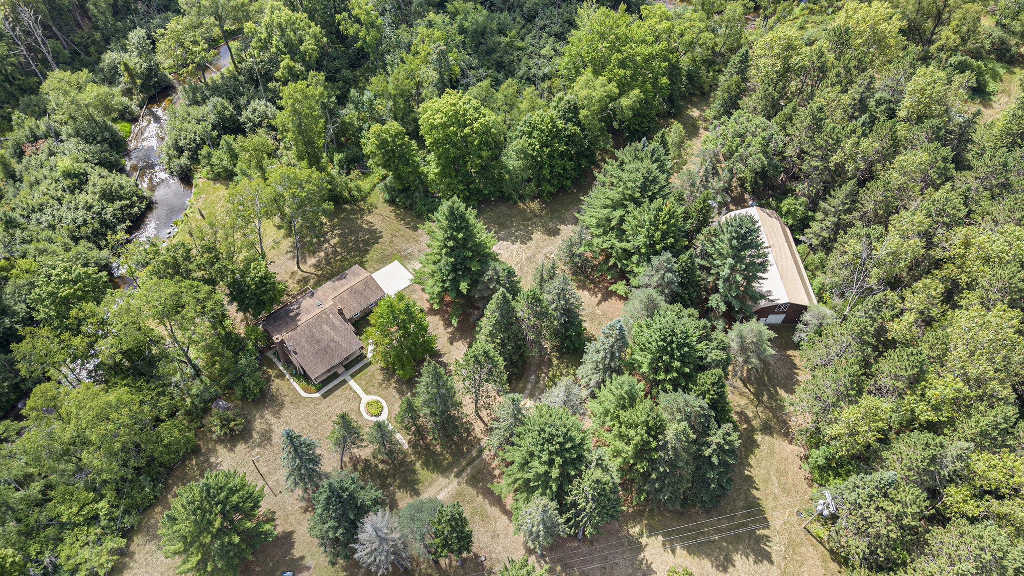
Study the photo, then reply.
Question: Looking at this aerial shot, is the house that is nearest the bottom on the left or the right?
left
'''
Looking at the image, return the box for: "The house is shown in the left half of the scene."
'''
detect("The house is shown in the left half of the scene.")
[238,267,387,385]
